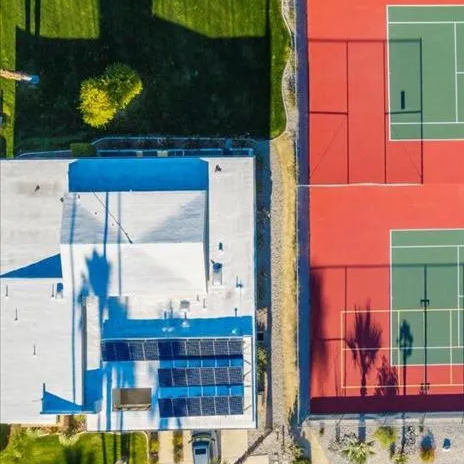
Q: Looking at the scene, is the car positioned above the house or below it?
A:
below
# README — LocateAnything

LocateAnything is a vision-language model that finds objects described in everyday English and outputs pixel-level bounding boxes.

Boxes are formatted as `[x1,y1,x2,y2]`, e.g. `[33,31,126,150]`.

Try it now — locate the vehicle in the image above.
[185,429,214,464]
